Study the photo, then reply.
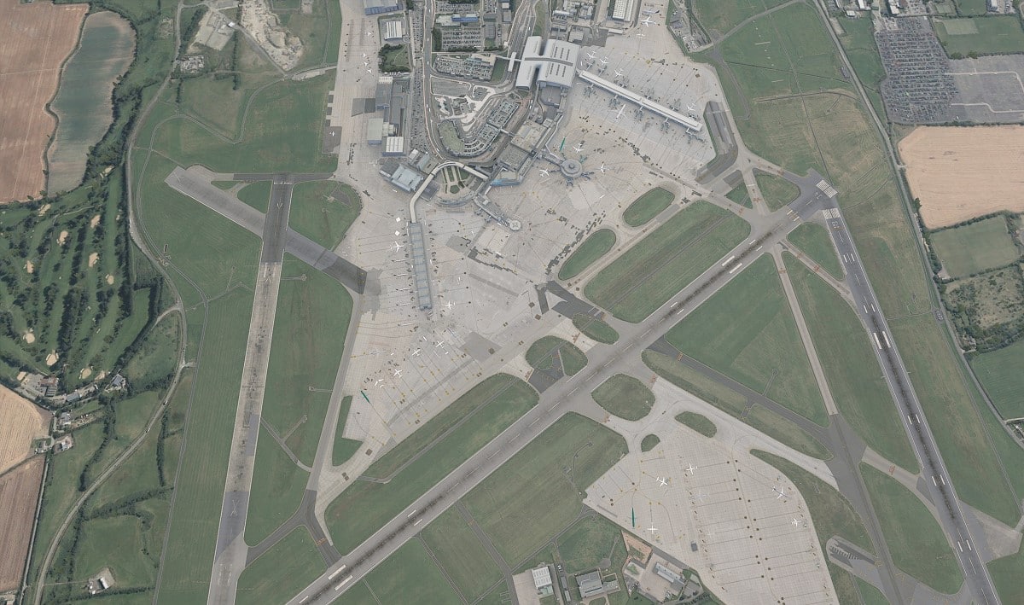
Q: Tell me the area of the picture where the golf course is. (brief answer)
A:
left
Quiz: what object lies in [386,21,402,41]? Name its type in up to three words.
hangar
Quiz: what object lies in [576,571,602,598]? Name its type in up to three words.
building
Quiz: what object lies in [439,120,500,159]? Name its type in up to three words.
building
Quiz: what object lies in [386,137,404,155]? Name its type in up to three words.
hangar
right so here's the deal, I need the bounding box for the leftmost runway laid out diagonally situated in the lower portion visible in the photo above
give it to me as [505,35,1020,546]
[290,183,831,605]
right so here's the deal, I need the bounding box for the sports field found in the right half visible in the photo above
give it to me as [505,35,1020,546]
[933,15,1024,56]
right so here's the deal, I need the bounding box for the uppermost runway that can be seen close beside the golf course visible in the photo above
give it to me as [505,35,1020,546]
[165,166,366,294]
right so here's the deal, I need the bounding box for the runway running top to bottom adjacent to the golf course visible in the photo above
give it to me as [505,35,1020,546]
[207,176,294,605]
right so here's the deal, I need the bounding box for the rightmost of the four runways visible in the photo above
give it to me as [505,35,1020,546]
[818,209,1005,605]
